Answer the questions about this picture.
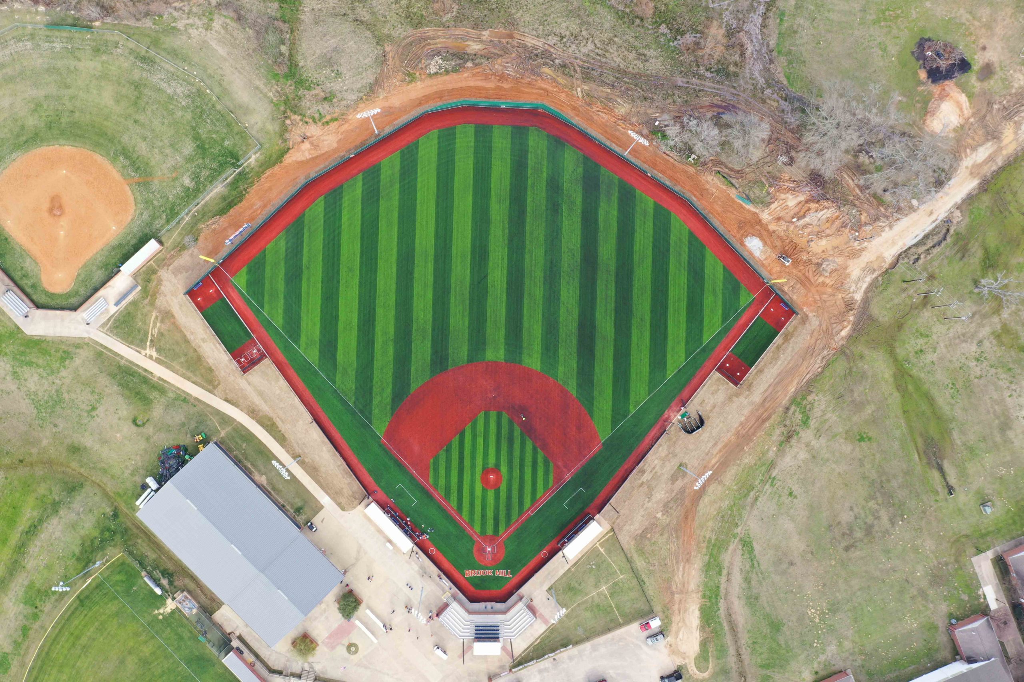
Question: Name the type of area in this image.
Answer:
sports ground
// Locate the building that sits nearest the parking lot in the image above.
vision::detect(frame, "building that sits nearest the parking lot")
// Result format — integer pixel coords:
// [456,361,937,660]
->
[474,637,503,655]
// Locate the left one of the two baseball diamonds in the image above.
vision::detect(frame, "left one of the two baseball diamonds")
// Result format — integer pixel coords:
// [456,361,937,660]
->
[0,25,255,309]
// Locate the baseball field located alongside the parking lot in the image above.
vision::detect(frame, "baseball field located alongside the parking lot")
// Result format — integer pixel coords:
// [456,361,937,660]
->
[190,107,797,603]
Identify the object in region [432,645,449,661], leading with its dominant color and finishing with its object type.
white vehicle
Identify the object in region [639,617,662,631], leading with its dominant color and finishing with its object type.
white vehicle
